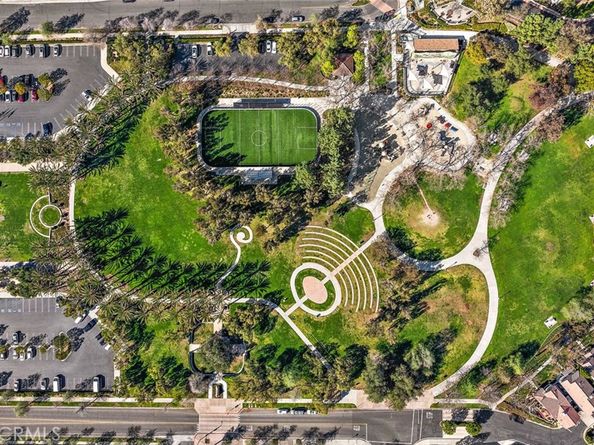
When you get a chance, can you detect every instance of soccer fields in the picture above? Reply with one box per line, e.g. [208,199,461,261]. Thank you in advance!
[200,108,319,168]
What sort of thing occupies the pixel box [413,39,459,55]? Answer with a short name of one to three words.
building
